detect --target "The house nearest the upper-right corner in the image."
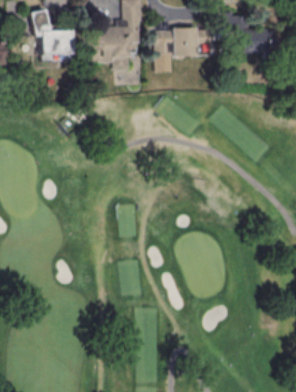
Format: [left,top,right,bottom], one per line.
[155,27,205,72]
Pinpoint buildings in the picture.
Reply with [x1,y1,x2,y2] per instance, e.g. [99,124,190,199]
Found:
[30,7,76,60]
[90,0,143,85]
[155,27,205,72]
[0,42,8,66]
